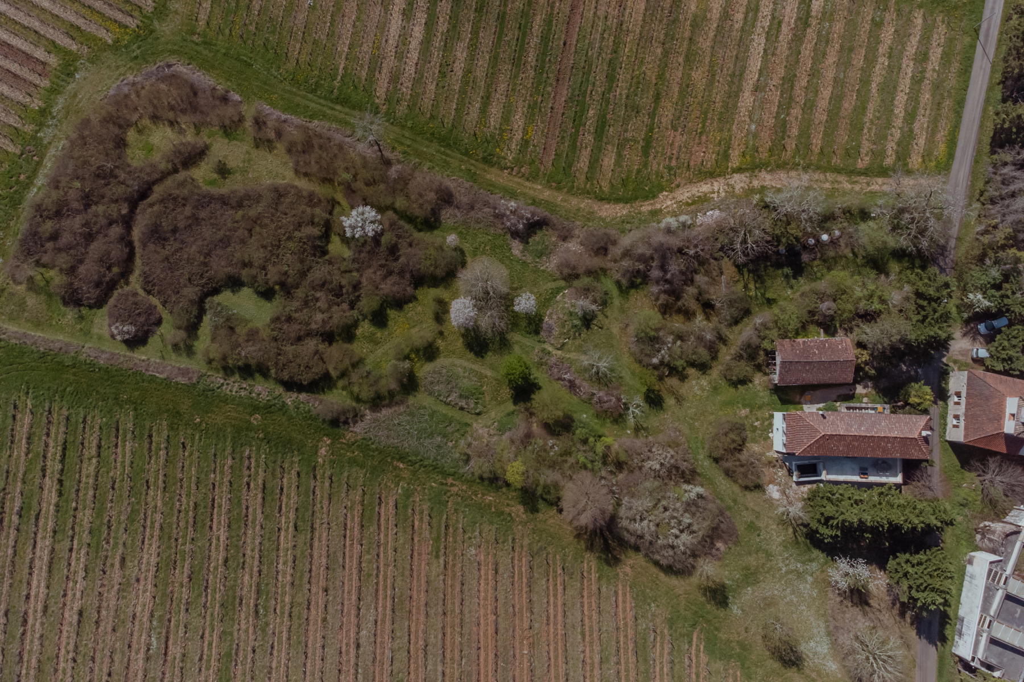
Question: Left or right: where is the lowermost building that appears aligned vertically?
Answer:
right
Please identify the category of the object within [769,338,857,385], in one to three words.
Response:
barn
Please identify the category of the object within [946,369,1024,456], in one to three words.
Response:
house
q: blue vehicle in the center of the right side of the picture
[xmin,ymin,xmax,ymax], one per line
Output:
[979,316,1014,335]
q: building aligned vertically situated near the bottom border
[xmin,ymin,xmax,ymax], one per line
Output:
[951,524,1024,682]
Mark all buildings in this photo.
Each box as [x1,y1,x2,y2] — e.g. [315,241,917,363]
[951,524,1024,682]
[769,338,857,385]
[946,369,1024,456]
[774,410,932,459]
